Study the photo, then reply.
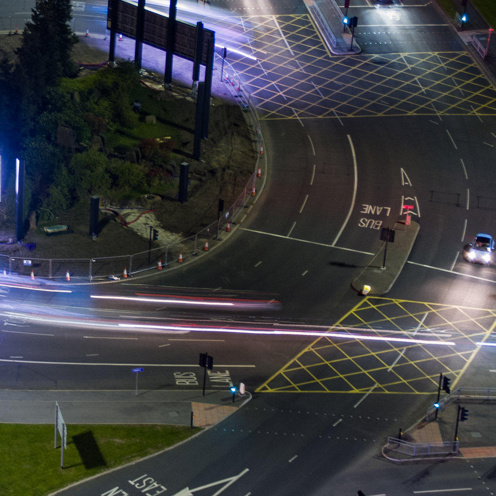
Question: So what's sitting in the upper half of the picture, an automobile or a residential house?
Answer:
automobile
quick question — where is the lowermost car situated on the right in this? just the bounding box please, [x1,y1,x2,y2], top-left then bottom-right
[381,325,443,352]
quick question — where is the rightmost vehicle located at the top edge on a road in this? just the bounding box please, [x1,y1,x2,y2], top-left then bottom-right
[214,18,249,44]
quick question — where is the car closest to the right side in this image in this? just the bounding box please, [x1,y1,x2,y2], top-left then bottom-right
[470,223,496,259]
